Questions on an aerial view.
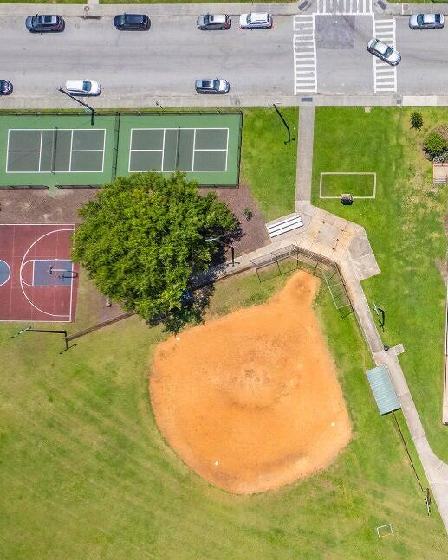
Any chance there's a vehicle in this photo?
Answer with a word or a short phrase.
Yes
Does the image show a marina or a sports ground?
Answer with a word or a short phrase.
sports ground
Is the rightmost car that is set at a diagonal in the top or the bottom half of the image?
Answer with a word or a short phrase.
top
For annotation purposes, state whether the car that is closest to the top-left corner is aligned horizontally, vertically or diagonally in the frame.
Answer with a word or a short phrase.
horizontally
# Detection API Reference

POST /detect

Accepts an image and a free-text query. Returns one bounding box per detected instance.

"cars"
[410,11,444,29]
[198,11,232,30]
[366,38,402,66]
[194,76,230,94]
[27,12,66,32]
[115,11,151,31]
[65,78,102,96]
[0,77,16,95]
[240,10,274,29]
